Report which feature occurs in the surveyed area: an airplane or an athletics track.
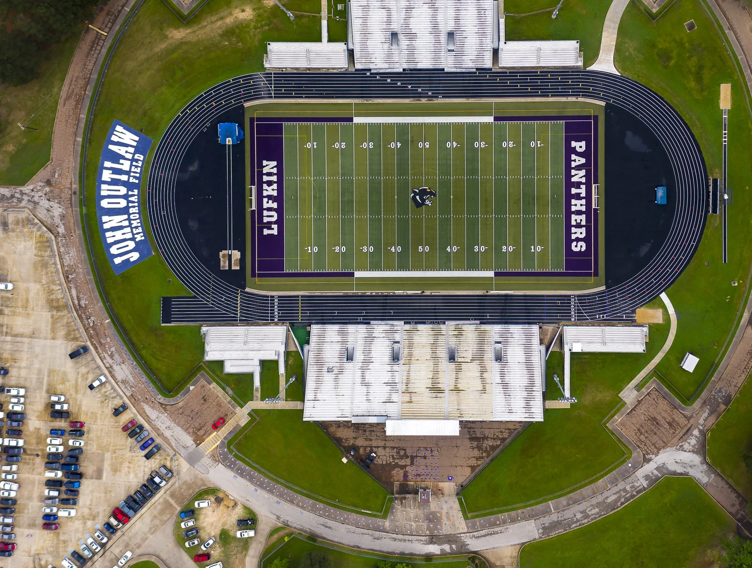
athletics track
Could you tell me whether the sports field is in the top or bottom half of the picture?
top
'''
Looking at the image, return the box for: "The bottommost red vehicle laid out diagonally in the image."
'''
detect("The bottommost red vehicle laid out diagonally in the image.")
[112,507,129,523]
